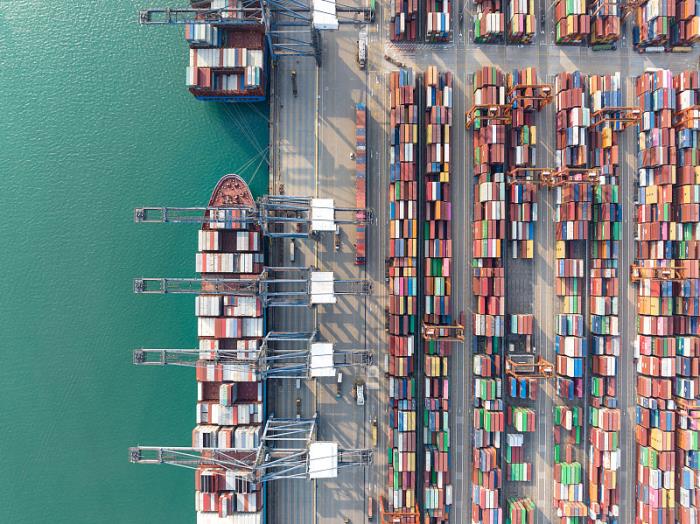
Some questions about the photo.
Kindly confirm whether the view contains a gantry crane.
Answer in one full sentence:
Yes, this view includes a gantry crane.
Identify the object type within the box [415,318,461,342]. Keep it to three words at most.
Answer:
container crane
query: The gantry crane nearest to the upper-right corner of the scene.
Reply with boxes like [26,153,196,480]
[588,0,643,30]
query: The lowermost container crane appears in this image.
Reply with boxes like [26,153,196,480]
[379,491,422,524]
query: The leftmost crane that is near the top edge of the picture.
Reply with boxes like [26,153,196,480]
[135,0,375,69]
